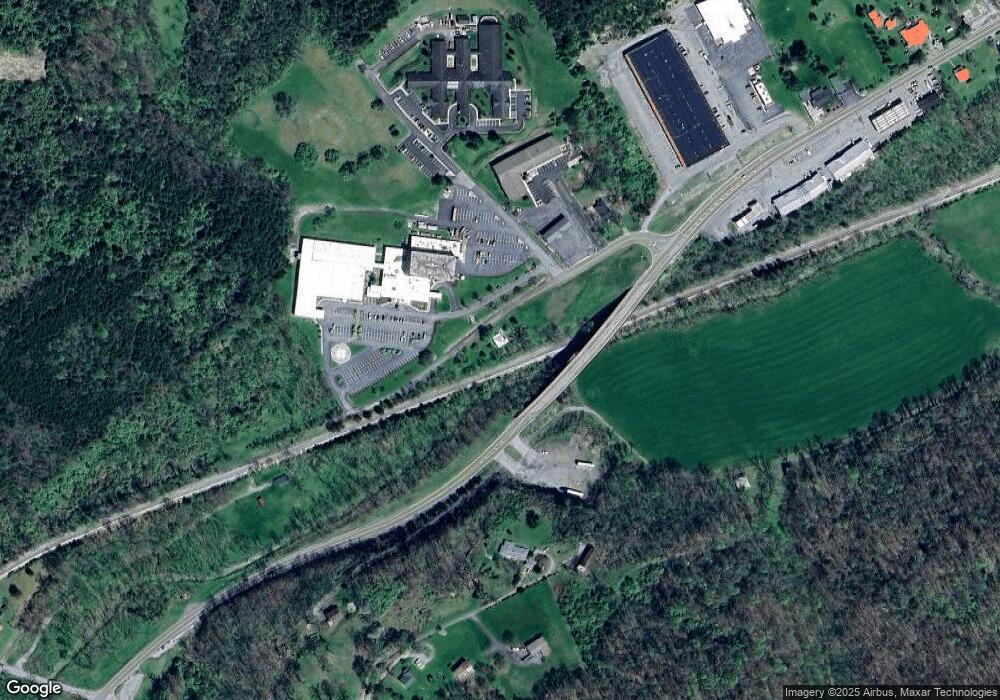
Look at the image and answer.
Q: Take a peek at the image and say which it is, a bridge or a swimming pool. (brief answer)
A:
bridge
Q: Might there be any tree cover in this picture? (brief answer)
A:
Yes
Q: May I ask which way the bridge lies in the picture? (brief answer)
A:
on a diagonal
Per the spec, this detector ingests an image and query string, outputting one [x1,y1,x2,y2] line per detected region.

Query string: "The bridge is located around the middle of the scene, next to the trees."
[505,277,651,439]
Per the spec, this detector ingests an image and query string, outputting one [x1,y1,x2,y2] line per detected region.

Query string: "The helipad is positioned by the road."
[331,344,351,363]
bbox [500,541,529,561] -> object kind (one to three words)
house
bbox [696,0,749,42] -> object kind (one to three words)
building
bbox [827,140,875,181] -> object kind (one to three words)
shed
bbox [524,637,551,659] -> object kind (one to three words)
house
